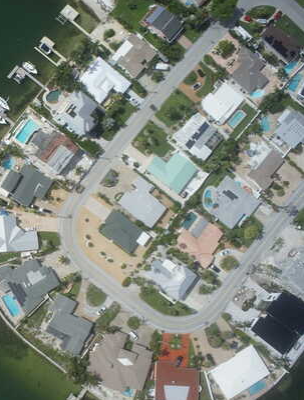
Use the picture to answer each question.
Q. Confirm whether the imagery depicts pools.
Yes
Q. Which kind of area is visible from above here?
residential area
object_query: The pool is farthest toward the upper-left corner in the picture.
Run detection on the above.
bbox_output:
[47,89,61,104]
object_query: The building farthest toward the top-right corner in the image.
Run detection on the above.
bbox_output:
[259,25,304,66]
